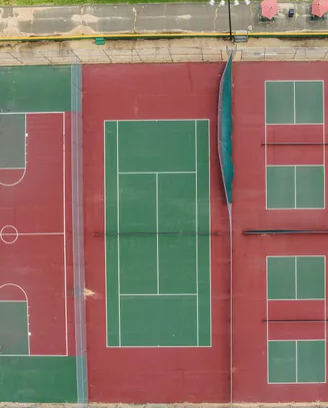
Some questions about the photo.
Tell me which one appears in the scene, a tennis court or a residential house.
tennis court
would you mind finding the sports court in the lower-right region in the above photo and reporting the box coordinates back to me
[266,256,326,384]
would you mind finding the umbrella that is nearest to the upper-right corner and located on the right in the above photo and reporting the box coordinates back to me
[309,0,328,18]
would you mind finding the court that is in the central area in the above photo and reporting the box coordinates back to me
[81,62,232,403]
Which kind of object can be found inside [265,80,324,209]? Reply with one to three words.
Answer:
sports court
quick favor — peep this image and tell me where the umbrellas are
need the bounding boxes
[259,0,279,20]
[309,0,328,18]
